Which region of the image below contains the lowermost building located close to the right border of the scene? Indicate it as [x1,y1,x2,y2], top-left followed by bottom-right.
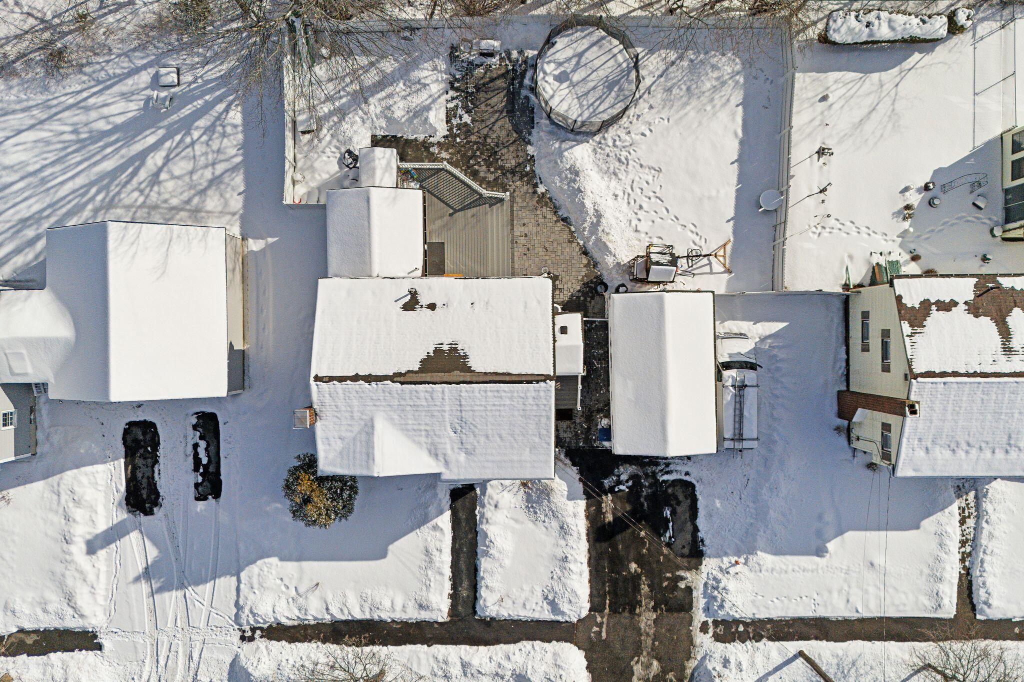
[837,274,1024,478]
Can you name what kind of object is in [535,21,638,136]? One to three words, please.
trampoline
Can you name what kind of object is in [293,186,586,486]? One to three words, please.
house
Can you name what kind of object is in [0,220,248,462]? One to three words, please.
house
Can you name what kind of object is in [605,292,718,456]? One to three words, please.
building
